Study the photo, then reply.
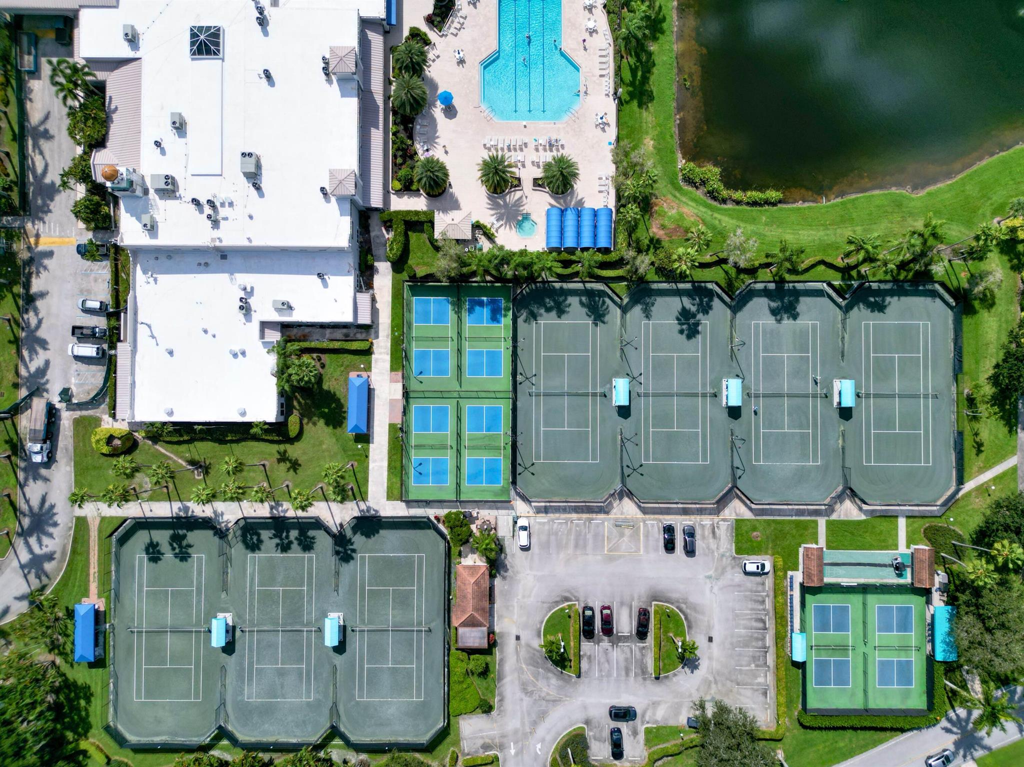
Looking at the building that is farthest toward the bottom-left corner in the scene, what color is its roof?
blue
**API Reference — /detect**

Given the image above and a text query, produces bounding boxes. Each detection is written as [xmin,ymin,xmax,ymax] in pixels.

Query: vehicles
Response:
[740,560,770,575]
[78,297,110,312]
[892,556,908,573]
[662,523,676,552]
[636,608,650,639]
[582,607,596,637]
[682,524,697,555]
[70,343,102,357]
[923,745,955,767]
[516,518,530,548]
[610,726,625,758]
[70,324,109,339]
[607,705,637,722]
[600,605,614,635]
[24,393,55,461]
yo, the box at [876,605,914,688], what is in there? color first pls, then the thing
blue sports court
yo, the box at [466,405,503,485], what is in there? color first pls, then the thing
blue sports court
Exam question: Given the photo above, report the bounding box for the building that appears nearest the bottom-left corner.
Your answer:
[73,601,105,662]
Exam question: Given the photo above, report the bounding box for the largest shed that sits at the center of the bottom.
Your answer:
[452,564,493,650]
